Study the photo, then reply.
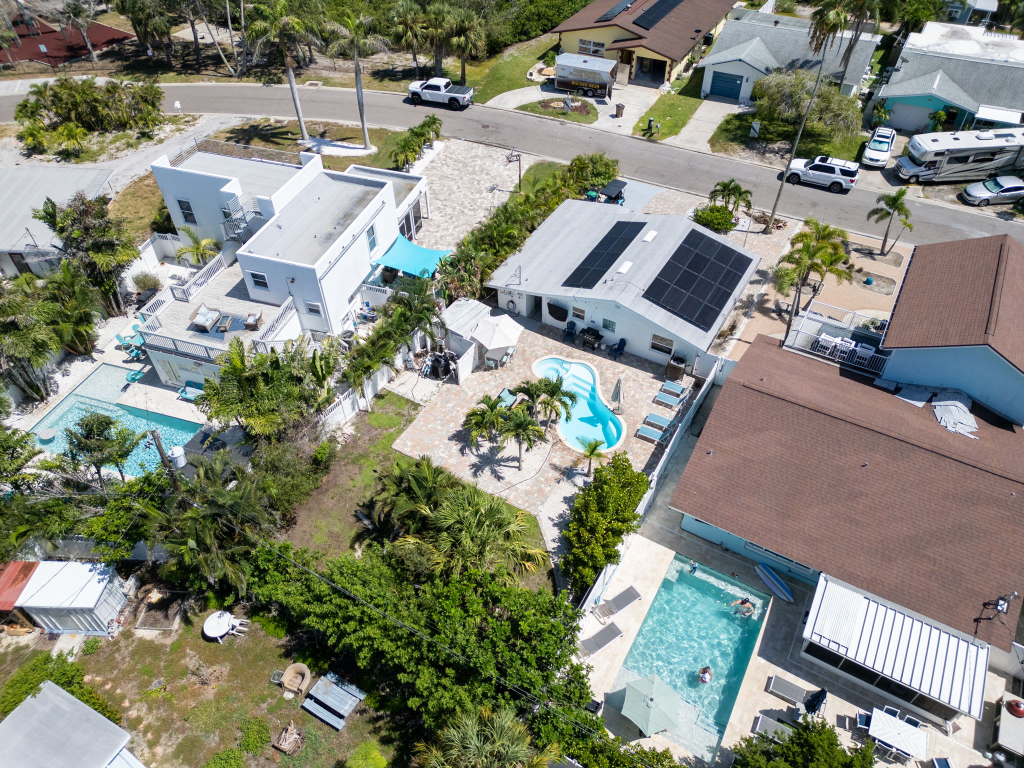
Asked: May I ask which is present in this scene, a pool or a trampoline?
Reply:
pool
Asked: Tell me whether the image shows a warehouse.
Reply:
No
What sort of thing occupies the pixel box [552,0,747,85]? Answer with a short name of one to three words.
house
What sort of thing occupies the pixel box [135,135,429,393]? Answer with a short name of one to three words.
house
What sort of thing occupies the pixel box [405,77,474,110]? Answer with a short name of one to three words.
truck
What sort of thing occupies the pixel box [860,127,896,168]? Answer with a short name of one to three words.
car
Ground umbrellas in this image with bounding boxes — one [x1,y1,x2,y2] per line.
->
[472,314,524,351]
[795,687,835,730]
[611,377,627,416]
[621,673,681,736]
